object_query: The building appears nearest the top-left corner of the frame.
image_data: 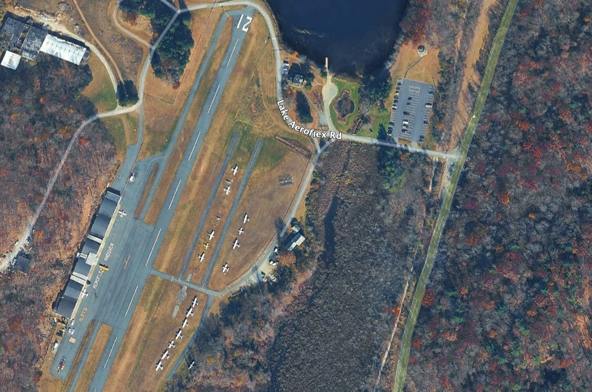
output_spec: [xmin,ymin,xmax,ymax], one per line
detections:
[0,17,25,50]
